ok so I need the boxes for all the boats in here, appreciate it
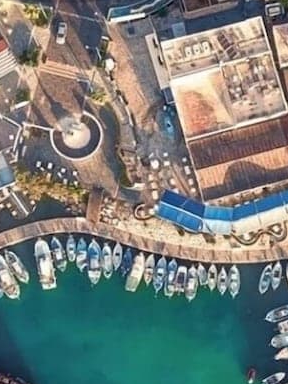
[75,231,87,274]
[165,257,177,297]
[270,330,288,346]
[185,260,198,302]
[275,346,288,361]
[121,245,132,277]
[174,258,187,295]
[66,234,76,262]
[275,318,288,334]
[102,235,113,279]
[49,234,65,273]
[152,253,167,293]
[217,263,227,296]
[2,249,29,283]
[265,304,288,321]
[260,262,273,294]
[261,372,285,384]
[208,261,218,291]
[33,235,57,293]
[87,235,102,286]
[0,257,20,300]
[271,260,284,290]
[196,261,210,287]
[111,238,122,272]
[144,252,156,286]
[123,247,145,294]
[228,264,241,299]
